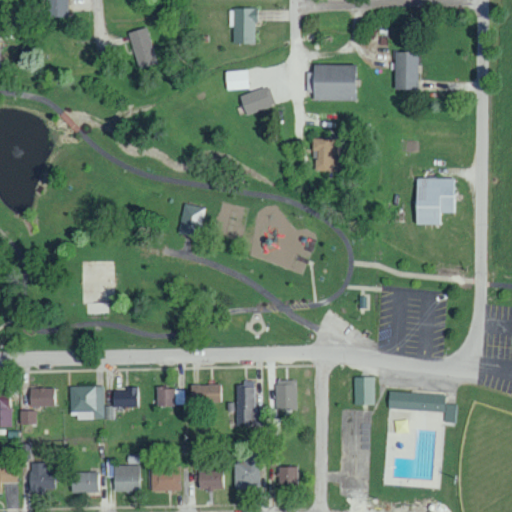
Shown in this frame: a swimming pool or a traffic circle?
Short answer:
swimming pool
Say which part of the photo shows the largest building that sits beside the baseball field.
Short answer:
bottom right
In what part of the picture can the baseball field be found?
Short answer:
bottom right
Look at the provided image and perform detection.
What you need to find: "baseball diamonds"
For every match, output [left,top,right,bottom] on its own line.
[460,402,512,512]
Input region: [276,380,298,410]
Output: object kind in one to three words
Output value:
house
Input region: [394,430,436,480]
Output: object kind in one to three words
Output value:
swimming pool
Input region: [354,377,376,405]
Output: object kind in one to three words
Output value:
building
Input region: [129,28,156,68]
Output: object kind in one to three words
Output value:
house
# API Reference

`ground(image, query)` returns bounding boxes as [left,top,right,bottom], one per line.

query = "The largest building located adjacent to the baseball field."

[388,391,446,410]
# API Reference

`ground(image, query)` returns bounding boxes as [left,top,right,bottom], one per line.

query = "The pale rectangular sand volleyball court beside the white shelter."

[82,261,115,304]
